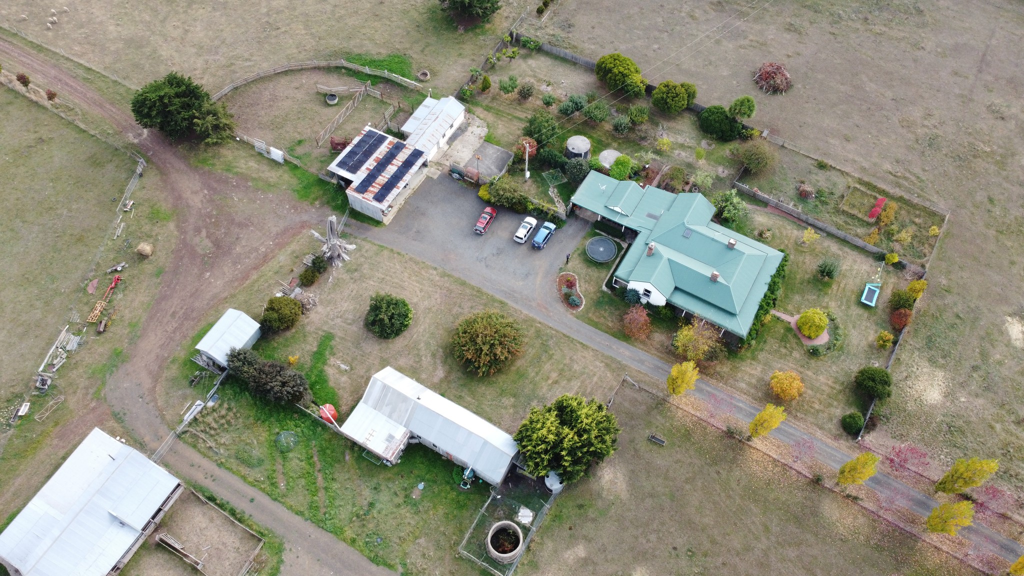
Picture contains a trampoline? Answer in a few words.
Yes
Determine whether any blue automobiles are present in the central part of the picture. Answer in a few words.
Yes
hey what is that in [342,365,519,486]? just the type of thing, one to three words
shed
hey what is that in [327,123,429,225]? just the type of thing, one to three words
shed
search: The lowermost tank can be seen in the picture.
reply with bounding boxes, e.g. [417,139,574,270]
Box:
[486,522,525,565]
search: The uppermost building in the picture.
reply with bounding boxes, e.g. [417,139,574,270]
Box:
[401,97,466,160]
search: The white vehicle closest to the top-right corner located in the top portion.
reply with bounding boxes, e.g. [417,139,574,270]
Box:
[514,216,536,244]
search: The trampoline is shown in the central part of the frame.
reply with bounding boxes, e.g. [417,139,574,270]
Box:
[586,235,618,265]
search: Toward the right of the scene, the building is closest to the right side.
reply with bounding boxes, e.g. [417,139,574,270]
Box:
[570,169,784,345]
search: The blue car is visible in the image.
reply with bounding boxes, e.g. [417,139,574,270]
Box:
[533,222,554,250]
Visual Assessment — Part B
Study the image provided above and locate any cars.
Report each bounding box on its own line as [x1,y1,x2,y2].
[474,207,495,235]
[533,222,554,250]
[514,216,536,244]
